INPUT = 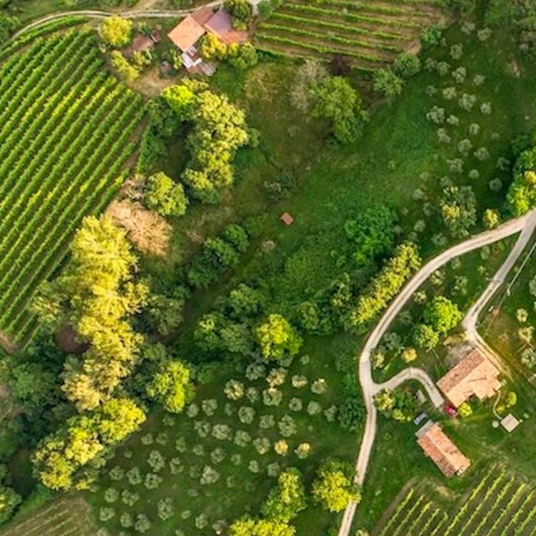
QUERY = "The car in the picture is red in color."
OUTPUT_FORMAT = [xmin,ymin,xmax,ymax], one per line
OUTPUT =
[444,403,459,416]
